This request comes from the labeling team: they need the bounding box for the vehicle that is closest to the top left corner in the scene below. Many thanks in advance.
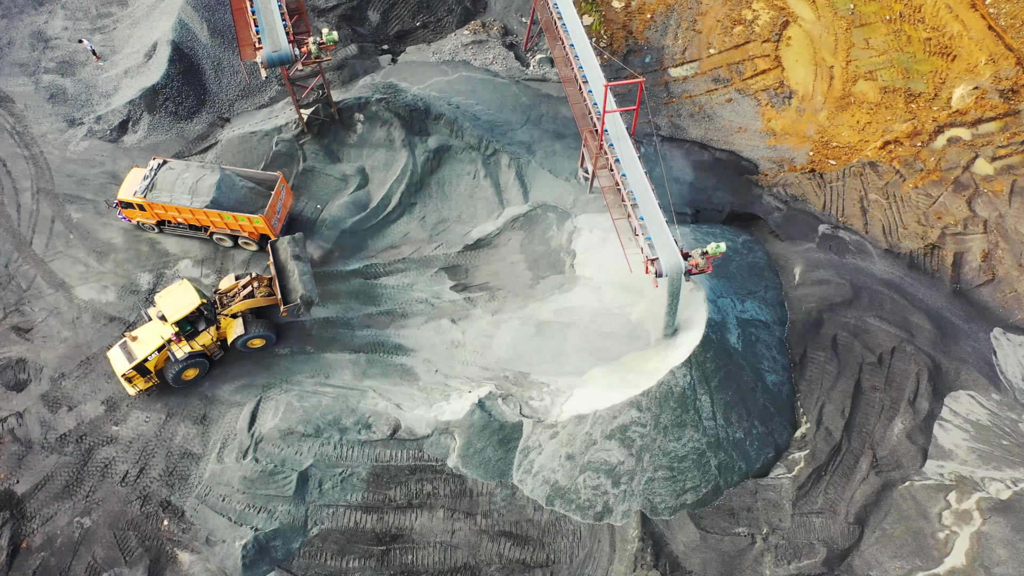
[98,154,294,251]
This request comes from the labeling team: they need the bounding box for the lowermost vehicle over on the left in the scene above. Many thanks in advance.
[111,242,325,396]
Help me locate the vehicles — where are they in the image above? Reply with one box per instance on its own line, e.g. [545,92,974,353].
[98,154,294,251]
[111,242,325,396]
